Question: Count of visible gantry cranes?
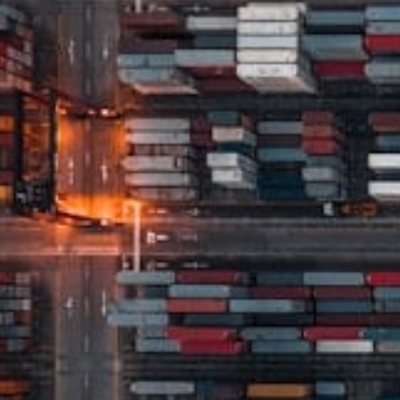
1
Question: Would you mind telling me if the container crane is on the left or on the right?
left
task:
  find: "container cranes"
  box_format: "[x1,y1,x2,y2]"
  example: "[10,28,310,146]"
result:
[10,73,124,226]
